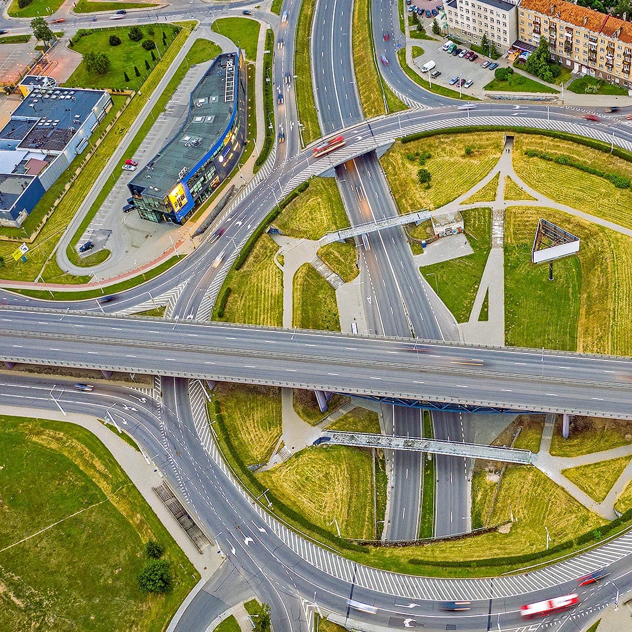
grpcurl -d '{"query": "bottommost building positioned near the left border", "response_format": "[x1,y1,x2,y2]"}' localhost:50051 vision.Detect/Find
[0,172,47,229]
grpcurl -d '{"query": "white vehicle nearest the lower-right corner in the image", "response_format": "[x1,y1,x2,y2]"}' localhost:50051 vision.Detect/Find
[523,592,575,618]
